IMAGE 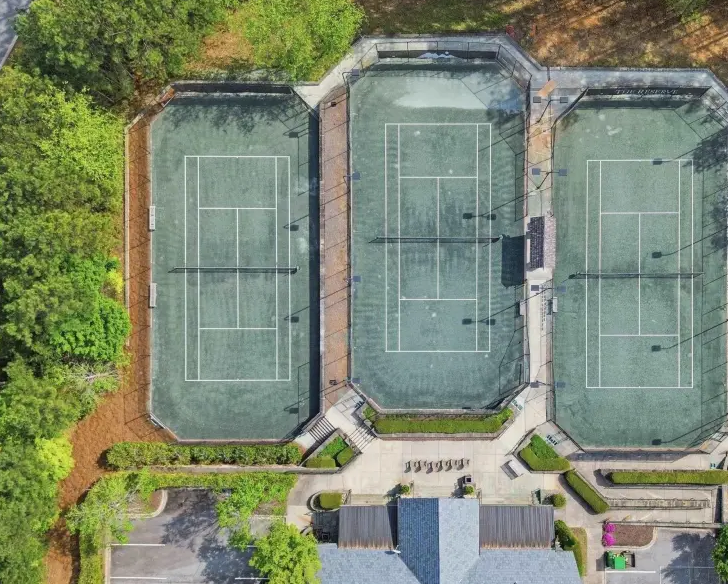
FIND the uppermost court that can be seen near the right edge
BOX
[553,97,728,447]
